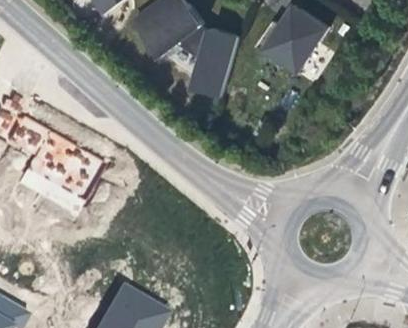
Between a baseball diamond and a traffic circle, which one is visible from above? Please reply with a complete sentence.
The image shows a traffic circle.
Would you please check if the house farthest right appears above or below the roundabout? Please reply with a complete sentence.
The house farthest right is above the roundabout.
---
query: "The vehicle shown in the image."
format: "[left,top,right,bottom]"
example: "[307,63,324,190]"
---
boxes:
[380,168,394,194]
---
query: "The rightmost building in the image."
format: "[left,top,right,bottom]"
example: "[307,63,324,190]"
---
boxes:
[254,4,332,80]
